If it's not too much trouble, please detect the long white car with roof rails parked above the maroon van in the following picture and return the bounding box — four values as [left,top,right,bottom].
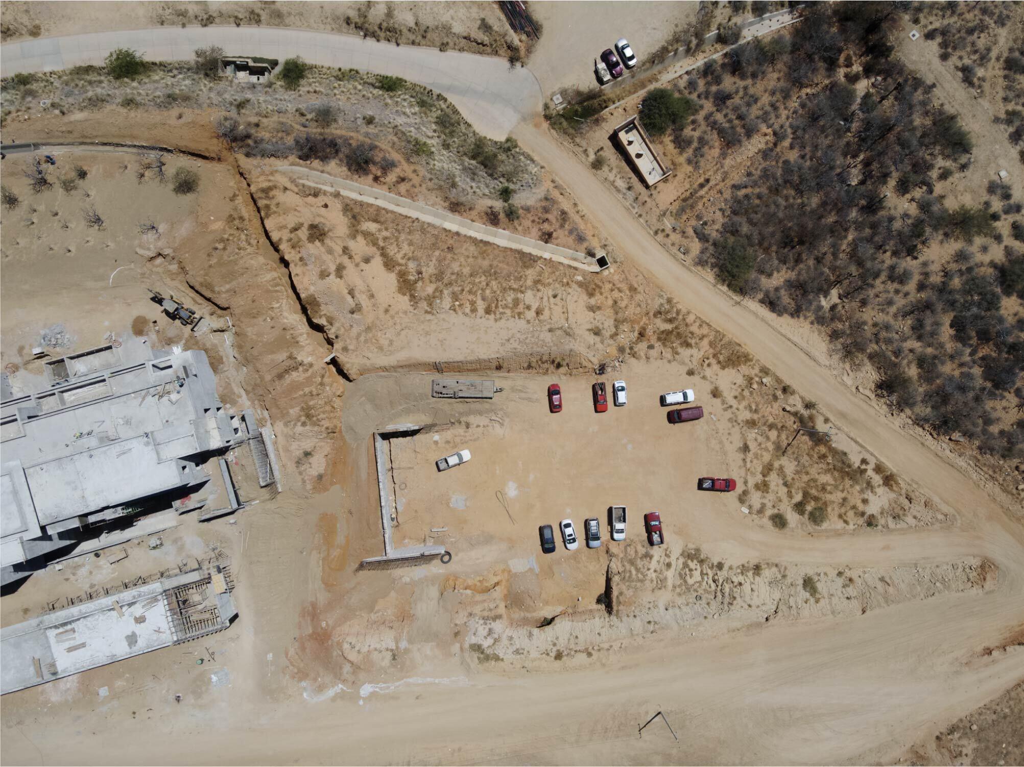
[660,389,695,406]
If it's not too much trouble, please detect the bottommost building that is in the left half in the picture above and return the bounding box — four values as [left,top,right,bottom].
[0,334,258,586]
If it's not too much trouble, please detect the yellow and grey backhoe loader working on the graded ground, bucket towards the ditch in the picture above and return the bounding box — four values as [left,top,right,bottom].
[145,287,204,333]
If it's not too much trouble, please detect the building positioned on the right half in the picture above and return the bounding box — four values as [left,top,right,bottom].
[613,115,672,191]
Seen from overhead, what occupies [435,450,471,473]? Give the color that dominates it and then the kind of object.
white truck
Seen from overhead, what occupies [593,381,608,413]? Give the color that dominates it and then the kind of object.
red vehicle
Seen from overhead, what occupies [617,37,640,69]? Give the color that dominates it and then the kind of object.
white car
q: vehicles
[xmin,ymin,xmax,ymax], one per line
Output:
[645,512,664,547]
[611,505,627,540]
[667,405,705,425]
[660,389,695,406]
[613,381,627,407]
[698,477,736,493]
[145,287,204,333]
[593,381,608,413]
[560,519,578,550]
[540,524,556,554]
[595,62,612,85]
[548,384,563,413]
[586,518,602,548]
[617,37,640,69]
[604,48,625,78]
[435,450,471,473]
